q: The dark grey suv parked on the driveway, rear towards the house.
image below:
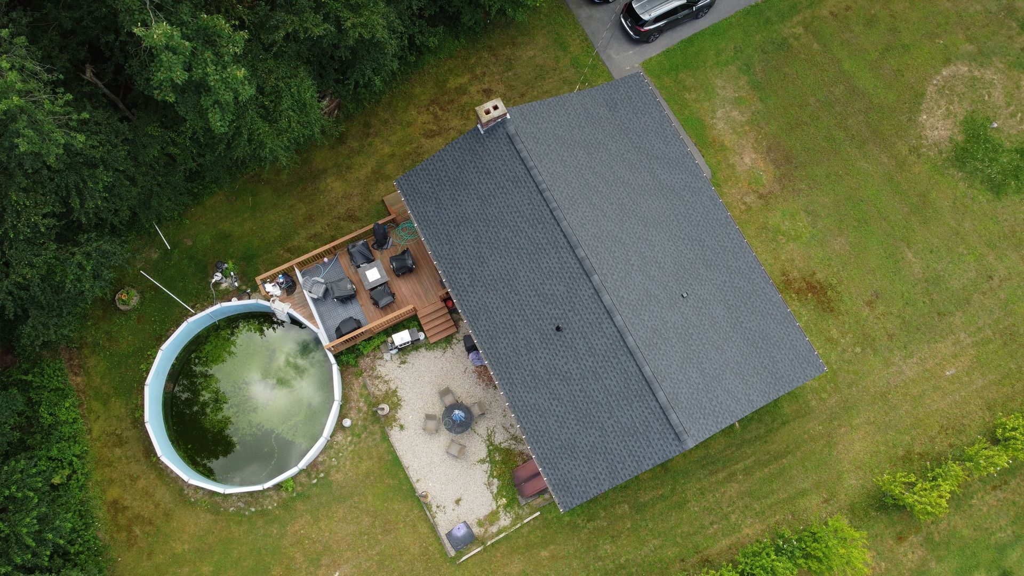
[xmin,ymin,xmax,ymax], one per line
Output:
[619,0,716,42]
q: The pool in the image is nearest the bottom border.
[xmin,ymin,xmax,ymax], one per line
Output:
[145,298,347,495]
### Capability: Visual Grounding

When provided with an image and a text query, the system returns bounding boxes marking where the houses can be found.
[394,71,827,514]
